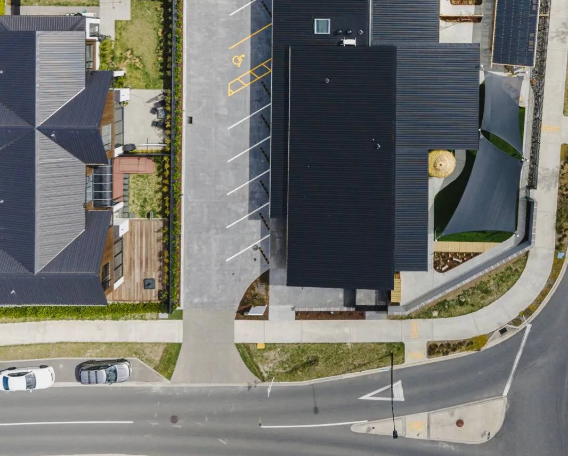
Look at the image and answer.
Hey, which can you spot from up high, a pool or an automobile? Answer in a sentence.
Looking from above, you can make out an automobile.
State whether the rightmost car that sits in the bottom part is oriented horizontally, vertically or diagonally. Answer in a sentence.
In this picture, the rightmost car that sits in the bottom part is oriented horizontally.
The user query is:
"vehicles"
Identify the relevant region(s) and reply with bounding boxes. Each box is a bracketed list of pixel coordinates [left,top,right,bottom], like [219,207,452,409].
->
[76,357,135,388]
[0,362,54,394]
